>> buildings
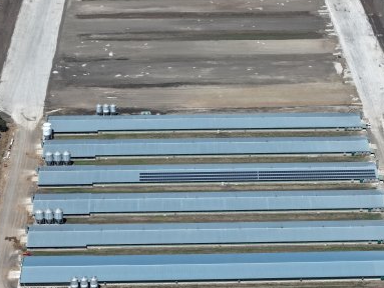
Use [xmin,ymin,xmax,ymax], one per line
[28,162,384,190]
[23,190,384,220]
[10,252,384,288]
[16,221,384,252]
[33,136,380,162]
[39,112,372,137]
